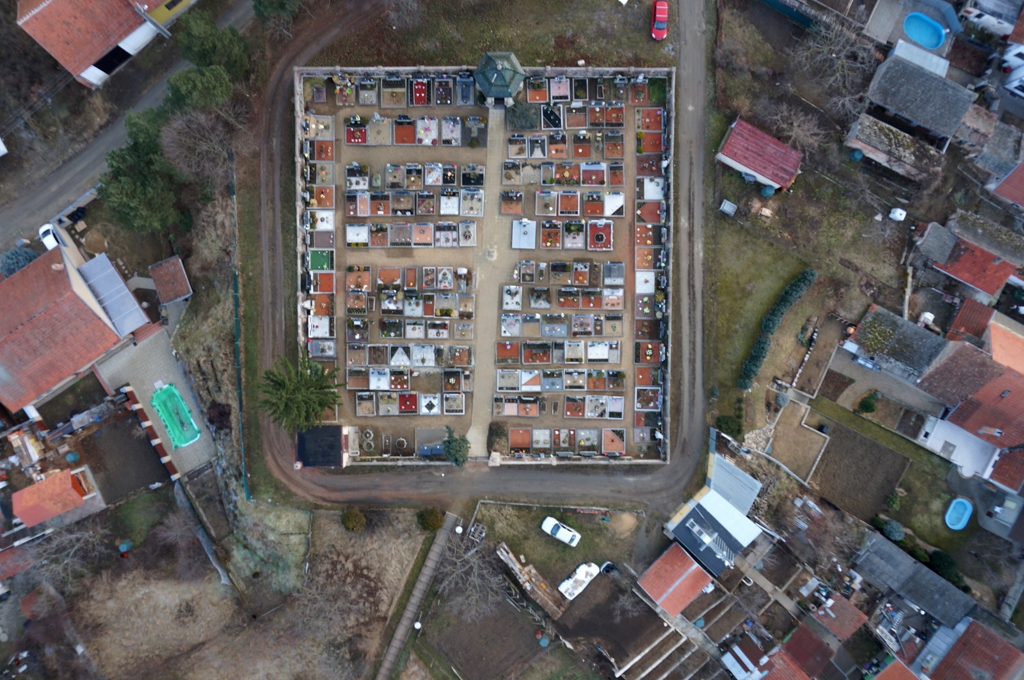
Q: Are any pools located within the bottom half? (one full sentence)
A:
Yes, there is a pool within the bottom half.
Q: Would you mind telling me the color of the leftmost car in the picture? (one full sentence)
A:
The color of the leftmost car is white.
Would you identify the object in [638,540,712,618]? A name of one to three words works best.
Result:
building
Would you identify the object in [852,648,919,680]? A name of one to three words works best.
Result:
shed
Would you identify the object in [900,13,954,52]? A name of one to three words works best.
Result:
swimming pool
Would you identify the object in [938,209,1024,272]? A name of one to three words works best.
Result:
barn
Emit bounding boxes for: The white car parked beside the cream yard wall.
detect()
[33,219,63,254]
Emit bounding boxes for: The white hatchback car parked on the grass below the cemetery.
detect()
[541,516,582,547]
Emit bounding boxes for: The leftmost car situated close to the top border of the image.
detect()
[651,0,671,39]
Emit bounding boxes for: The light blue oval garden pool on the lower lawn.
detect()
[944,499,971,529]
